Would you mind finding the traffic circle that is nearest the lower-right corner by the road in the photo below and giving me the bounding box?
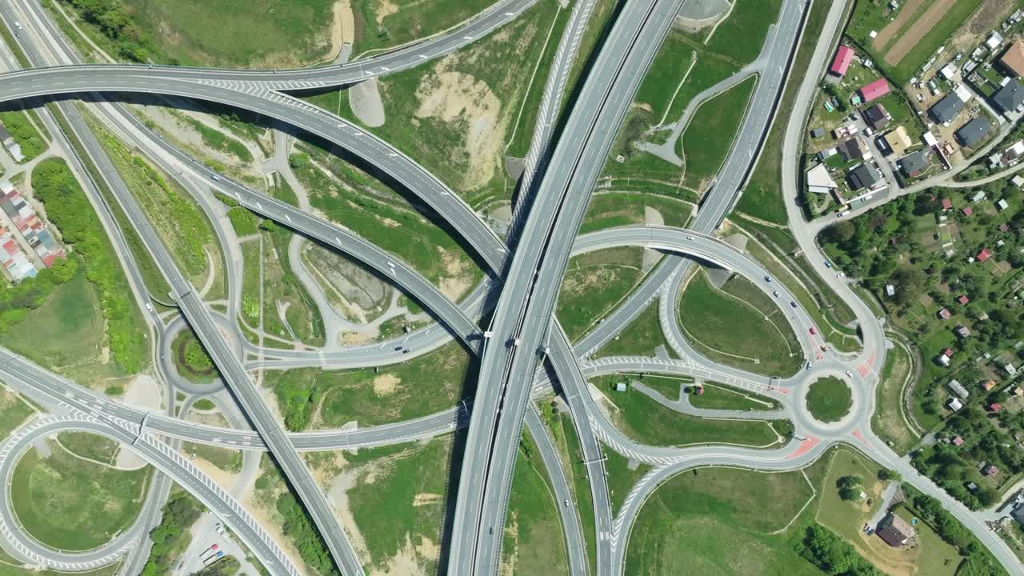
[788,360,869,440]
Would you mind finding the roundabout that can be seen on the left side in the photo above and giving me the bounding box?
[160,314,243,395]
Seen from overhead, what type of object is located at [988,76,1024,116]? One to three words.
house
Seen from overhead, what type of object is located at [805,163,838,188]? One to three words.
building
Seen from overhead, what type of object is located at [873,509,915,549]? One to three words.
house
